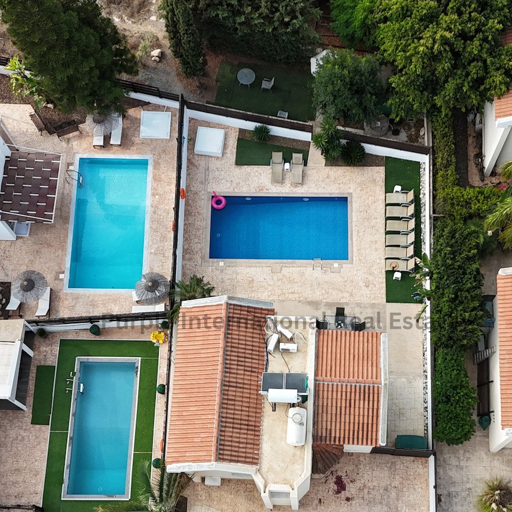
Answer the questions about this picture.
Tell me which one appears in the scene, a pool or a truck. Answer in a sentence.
I can see a pool in this picture.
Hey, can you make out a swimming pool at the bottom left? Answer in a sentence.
Yes, a swimming pool is visible at the bottom left.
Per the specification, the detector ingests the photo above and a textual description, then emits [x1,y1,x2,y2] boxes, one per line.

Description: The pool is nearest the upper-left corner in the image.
[58,154,156,293]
